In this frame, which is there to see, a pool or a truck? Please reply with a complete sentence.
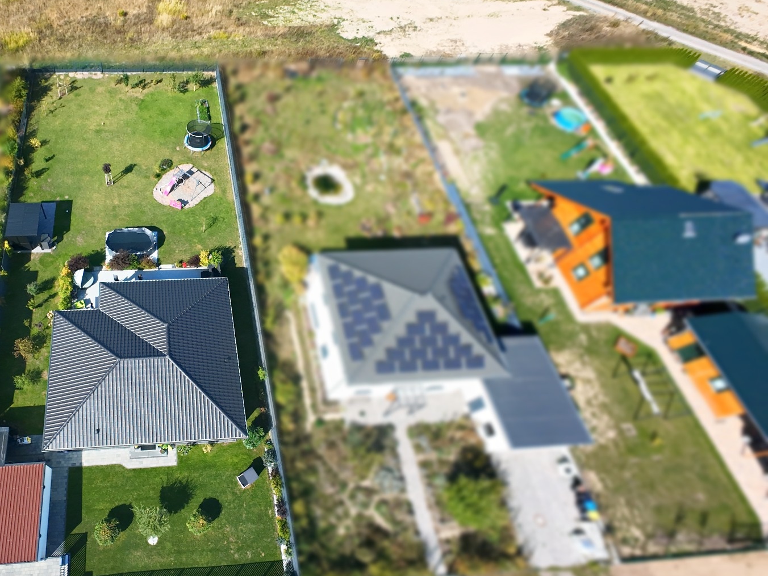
The image shows a pool.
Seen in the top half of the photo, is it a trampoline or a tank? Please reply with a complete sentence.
There is a trampoline in the top half of the photo.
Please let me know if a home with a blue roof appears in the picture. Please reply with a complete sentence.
Yes, I can see a home with a blue roof in this picture.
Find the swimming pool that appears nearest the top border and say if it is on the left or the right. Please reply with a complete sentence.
The swimming pool that appears nearest the top border is on the right side of the image.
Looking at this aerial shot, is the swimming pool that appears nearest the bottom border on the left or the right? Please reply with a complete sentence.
You can find the swimming pool that appears nearest the bottom border on the left side of the picture.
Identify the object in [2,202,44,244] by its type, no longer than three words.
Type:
shed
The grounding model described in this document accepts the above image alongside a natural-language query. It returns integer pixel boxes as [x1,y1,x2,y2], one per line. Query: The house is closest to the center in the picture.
[302,247,510,399]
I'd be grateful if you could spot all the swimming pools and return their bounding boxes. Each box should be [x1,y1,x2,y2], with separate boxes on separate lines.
[553,108,590,134]
[106,226,157,259]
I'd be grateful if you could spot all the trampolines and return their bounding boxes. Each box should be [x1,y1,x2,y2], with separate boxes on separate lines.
[520,75,561,108]
[182,119,214,157]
